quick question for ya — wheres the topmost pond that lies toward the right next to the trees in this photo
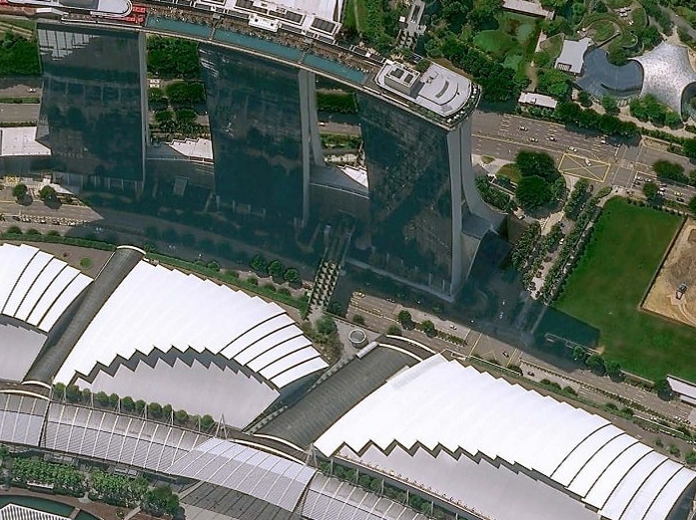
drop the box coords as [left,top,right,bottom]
[476,15,540,69]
